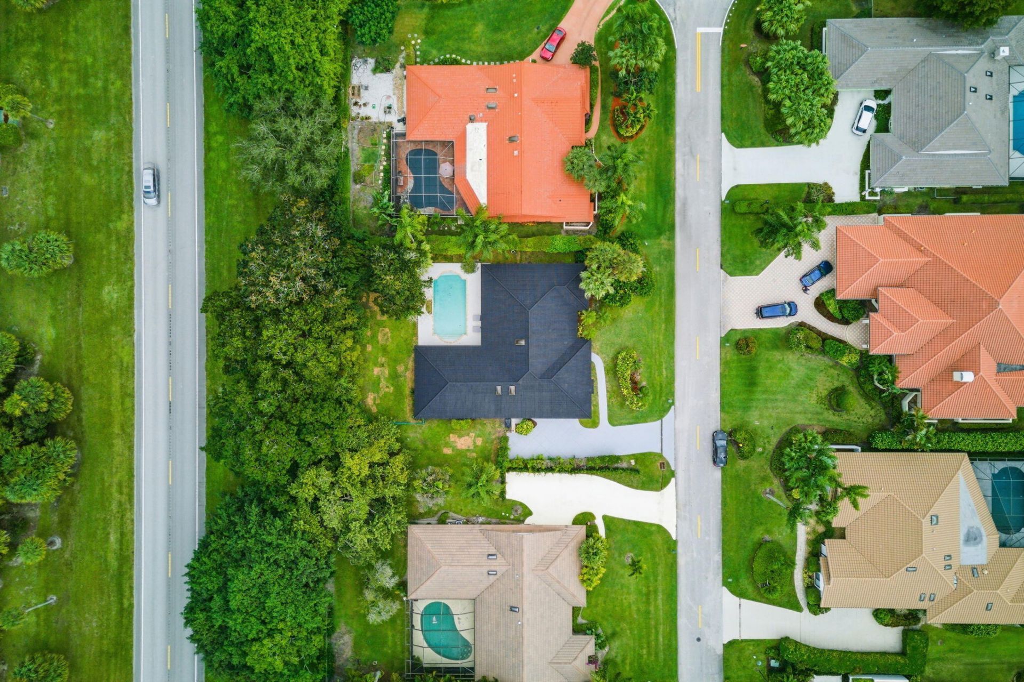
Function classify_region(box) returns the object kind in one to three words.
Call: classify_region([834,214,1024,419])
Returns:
house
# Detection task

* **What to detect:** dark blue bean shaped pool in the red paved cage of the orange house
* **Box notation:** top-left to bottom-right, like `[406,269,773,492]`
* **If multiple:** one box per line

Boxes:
[395,132,471,216]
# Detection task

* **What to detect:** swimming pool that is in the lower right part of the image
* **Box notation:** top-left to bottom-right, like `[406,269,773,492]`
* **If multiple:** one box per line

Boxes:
[969,456,1024,547]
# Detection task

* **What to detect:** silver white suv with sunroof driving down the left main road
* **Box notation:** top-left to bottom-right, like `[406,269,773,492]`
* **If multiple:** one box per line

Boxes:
[141,166,161,204]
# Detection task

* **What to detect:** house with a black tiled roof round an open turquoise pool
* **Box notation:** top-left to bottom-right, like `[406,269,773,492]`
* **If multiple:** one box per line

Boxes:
[414,263,594,419]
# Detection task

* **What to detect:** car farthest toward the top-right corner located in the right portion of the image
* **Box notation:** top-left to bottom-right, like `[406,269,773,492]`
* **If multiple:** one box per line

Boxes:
[851,98,877,136]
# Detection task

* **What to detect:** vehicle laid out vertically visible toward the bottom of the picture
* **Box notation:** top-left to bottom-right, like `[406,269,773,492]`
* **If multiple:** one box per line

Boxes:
[711,430,729,467]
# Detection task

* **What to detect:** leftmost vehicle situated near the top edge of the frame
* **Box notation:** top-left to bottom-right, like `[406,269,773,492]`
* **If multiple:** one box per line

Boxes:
[541,25,567,61]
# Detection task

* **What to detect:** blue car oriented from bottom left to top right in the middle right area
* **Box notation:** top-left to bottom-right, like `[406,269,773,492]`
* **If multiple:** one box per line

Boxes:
[798,260,834,288]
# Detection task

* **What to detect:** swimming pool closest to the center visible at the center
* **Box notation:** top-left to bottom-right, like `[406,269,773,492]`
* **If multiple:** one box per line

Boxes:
[418,263,481,345]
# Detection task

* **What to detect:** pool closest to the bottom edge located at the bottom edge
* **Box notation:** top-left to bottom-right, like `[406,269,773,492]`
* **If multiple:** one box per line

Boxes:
[413,599,475,673]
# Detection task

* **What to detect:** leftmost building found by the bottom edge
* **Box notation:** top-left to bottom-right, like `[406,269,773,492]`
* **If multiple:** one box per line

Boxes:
[407,524,595,682]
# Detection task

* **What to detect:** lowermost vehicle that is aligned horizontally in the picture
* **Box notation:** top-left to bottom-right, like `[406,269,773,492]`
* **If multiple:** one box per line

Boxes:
[757,300,796,319]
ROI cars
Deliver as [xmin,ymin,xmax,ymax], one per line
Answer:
[711,430,729,467]
[798,260,834,288]
[541,25,567,61]
[141,166,161,204]
[851,98,877,136]
[757,300,796,319]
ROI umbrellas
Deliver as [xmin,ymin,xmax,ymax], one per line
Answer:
[439,163,453,177]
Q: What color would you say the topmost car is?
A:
red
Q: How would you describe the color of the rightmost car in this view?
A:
white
